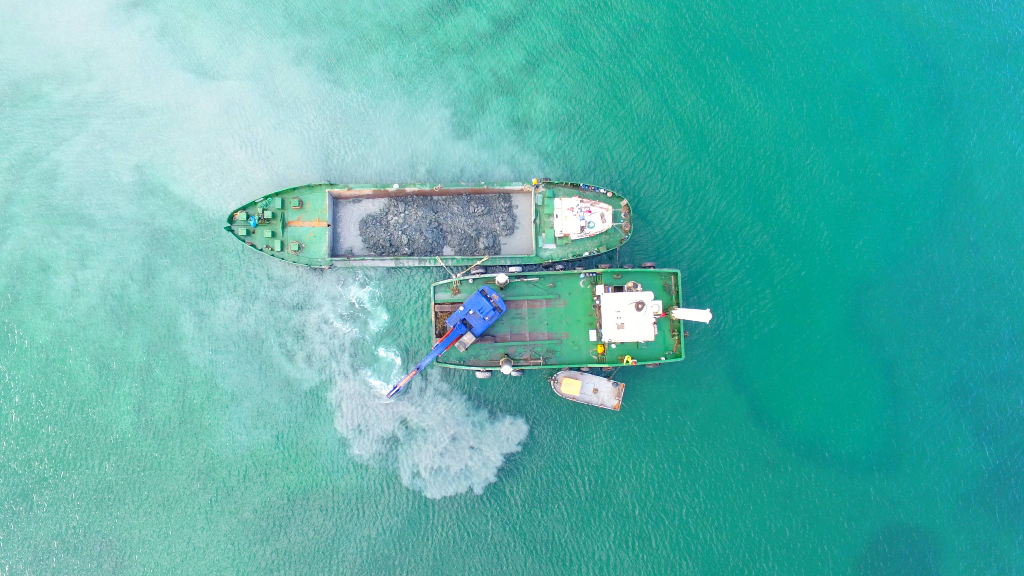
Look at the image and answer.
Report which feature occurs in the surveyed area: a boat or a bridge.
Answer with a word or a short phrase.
boat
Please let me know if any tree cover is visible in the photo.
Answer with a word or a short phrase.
No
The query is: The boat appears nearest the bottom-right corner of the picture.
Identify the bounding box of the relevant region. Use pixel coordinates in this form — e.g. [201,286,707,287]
[551,370,625,410]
